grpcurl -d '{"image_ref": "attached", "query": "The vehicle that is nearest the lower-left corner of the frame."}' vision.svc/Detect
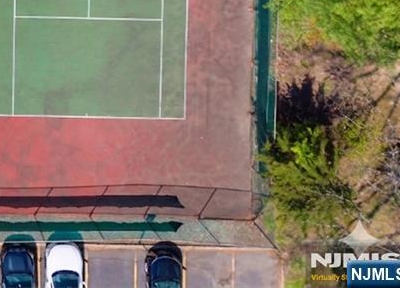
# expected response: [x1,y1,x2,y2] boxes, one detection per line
[0,242,42,288]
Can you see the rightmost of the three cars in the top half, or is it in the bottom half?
bottom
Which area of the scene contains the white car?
bottom left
